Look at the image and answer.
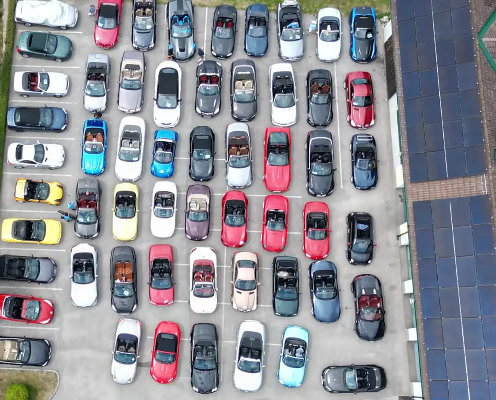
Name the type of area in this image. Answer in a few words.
parking lot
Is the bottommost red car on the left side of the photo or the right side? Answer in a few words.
left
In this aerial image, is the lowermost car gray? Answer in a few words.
Yes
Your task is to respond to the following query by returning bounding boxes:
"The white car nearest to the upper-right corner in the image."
[313,6,347,64]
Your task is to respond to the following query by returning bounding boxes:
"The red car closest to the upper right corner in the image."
[344,71,378,131]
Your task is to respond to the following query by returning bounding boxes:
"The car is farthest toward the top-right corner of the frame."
[348,6,381,64]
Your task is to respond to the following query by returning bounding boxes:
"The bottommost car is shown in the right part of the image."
[321,361,387,397]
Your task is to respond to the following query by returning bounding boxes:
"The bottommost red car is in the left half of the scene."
[149,320,183,384]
